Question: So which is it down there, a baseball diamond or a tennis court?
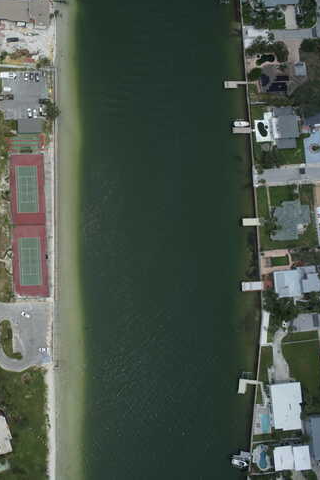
tennis court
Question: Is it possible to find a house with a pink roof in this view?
No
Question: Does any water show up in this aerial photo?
Yes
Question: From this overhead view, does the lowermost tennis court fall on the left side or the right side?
left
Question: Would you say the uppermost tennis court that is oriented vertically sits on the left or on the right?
left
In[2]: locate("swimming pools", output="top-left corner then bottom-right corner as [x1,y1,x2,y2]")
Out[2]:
[256,54,274,66]
[261,414,270,434]
[259,451,267,470]
[258,122,269,137]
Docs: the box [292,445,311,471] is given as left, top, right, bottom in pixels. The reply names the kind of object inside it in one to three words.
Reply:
house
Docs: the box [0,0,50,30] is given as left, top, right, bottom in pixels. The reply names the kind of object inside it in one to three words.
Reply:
house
